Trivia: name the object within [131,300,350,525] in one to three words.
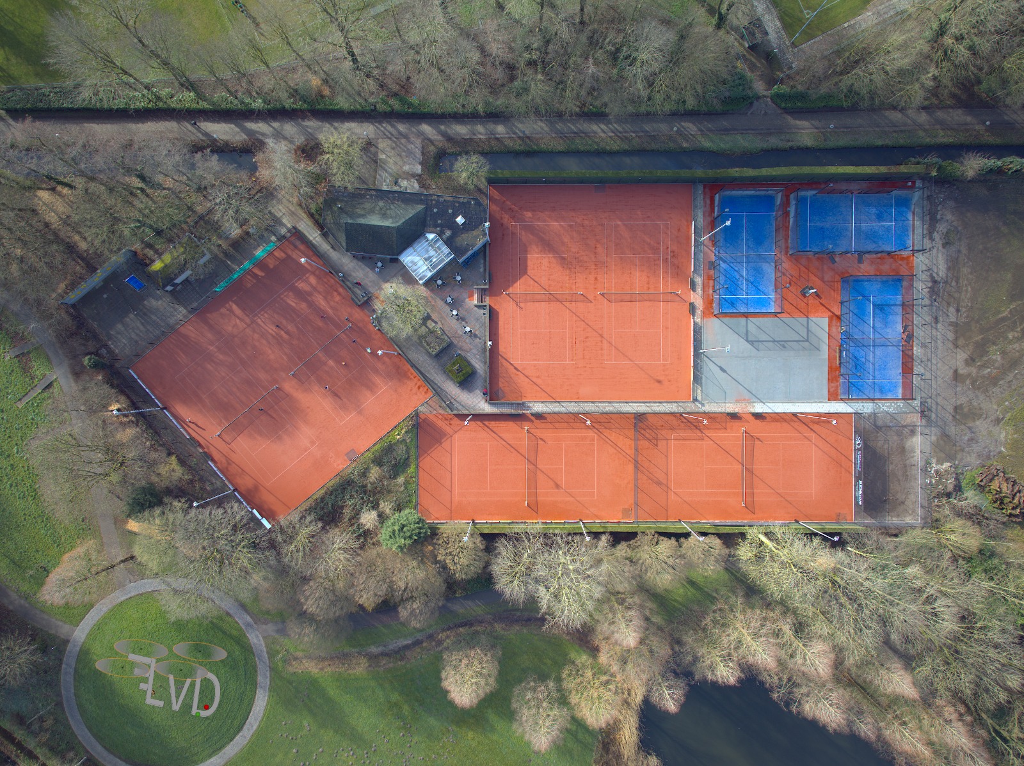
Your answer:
tennis court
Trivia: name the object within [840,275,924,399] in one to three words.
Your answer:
sports court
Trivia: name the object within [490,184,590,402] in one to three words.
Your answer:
tennis court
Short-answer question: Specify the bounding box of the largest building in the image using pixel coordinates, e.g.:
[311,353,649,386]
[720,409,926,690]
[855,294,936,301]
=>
[322,185,490,286]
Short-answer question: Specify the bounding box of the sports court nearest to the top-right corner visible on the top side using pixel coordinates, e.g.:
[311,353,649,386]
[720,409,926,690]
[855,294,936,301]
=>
[791,182,924,255]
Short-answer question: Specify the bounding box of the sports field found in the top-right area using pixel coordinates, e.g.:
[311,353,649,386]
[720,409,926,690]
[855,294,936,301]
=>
[775,0,879,45]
